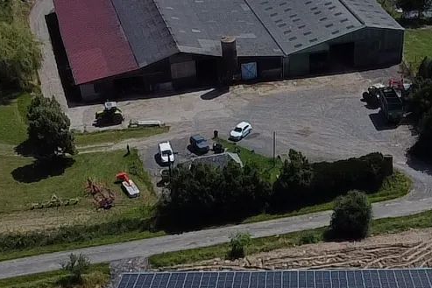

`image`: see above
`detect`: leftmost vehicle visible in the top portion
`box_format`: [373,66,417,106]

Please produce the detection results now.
[93,102,124,122]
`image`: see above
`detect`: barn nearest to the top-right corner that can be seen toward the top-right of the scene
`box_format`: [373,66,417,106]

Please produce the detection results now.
[235,0,407,73]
